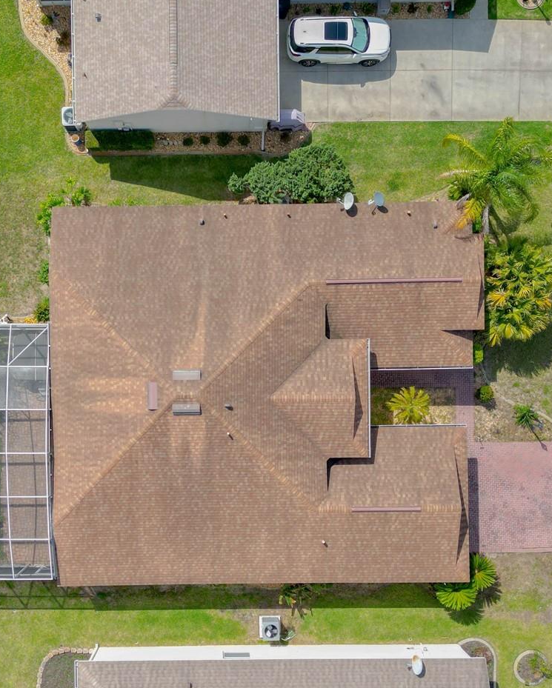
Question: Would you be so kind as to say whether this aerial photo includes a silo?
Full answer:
No, this view has no silo in it.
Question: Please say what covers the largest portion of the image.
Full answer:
What you mostly see from above here is buildings.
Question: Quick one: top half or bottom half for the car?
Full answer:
The car is in the top half of the image.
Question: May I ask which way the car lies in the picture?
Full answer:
Seen from above, the car lies from left to right.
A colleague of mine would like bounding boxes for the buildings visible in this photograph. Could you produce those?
[46,200,486,586]
[38,0,377,153]
[74,646,490,688]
